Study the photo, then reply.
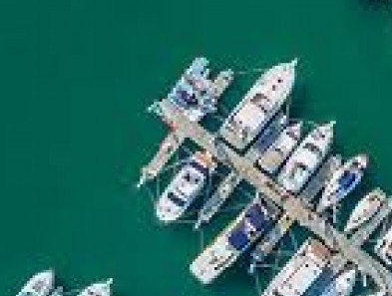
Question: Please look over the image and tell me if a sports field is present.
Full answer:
No, there isn't any sports field down there.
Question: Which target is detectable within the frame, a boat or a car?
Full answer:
Of the two, only a boat appears.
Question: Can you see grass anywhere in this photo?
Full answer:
No, there is no grass in the image.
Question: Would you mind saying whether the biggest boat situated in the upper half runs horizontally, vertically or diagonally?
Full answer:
The biggest boat situated in the upper half is laid out diagonally.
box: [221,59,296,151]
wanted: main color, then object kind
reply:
white boat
